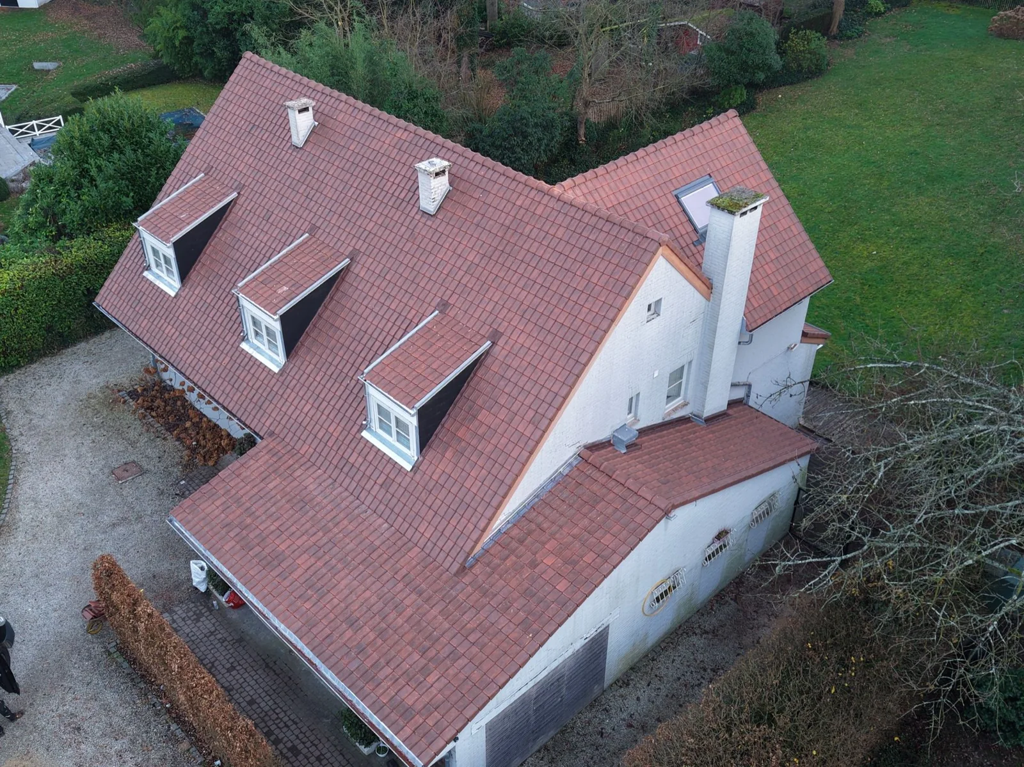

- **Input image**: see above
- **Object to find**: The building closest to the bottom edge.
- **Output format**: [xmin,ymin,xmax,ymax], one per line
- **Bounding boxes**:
[87,54,841,767]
